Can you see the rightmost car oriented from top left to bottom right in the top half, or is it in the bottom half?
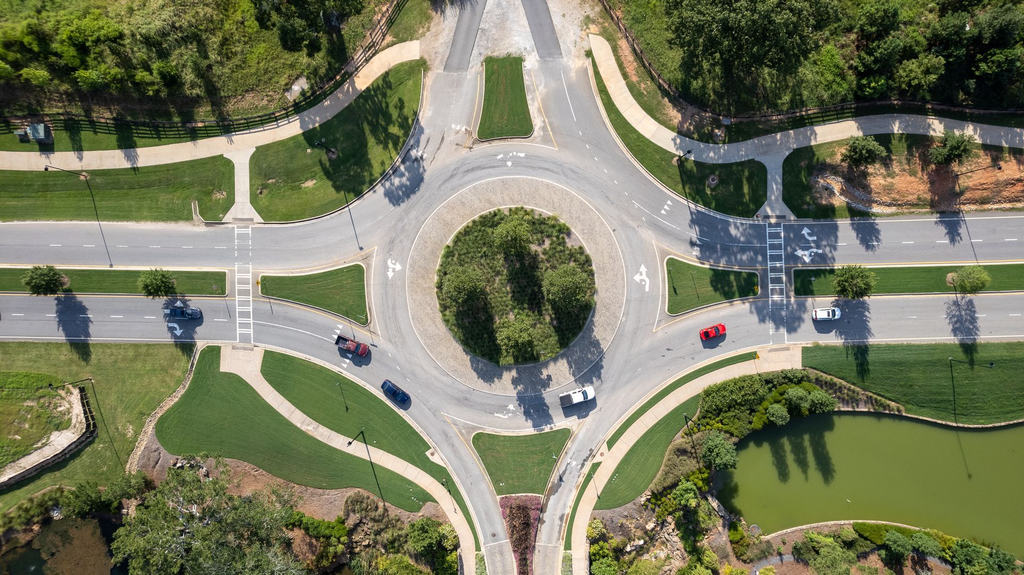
bottom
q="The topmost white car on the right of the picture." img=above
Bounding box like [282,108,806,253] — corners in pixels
[811,307,841,321]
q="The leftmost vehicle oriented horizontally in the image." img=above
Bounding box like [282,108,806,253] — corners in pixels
[165,306,200,320]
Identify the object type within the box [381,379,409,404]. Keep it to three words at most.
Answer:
car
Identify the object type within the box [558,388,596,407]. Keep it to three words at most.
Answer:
vehicle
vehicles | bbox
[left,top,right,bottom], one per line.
[558,388,596,407]
[381,379,409,404]
[165,306,200,320]
[698,323,726,340]
[333,333,370,356]
[811,307,841,321]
